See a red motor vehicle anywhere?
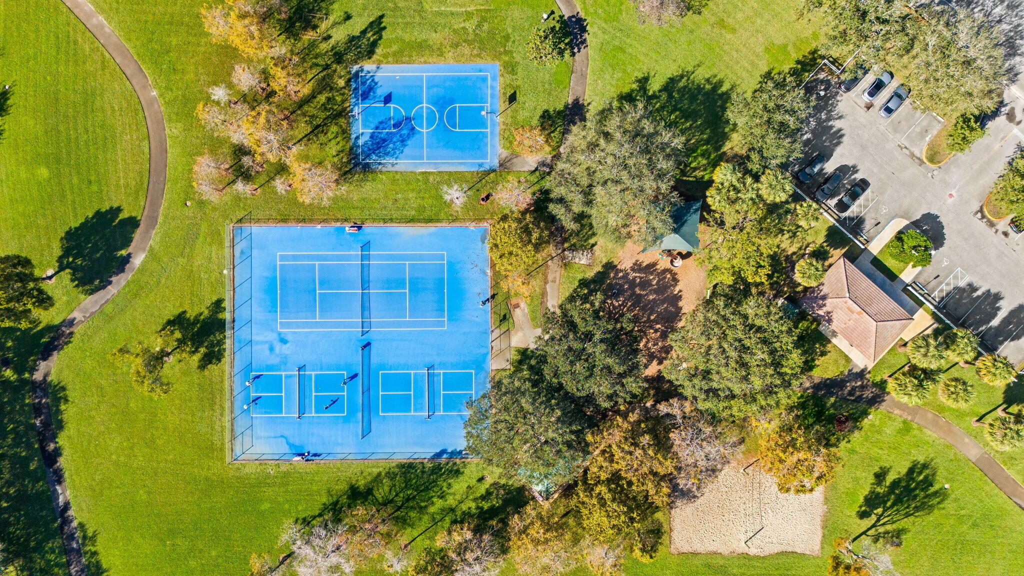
No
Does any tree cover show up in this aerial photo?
Yes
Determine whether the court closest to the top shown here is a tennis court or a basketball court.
basketball court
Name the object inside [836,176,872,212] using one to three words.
car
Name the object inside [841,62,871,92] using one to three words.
car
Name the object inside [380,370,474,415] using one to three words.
sports court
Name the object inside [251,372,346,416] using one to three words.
sports court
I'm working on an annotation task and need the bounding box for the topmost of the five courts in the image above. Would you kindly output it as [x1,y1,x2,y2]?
[350,62,500,173]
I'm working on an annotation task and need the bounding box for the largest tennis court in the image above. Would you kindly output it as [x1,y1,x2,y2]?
[230,223,492,463]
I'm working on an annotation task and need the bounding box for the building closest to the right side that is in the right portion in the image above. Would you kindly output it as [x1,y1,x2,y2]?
[802,255,914,364]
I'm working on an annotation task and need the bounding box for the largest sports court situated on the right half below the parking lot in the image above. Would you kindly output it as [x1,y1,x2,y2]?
[666,459,828,559]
